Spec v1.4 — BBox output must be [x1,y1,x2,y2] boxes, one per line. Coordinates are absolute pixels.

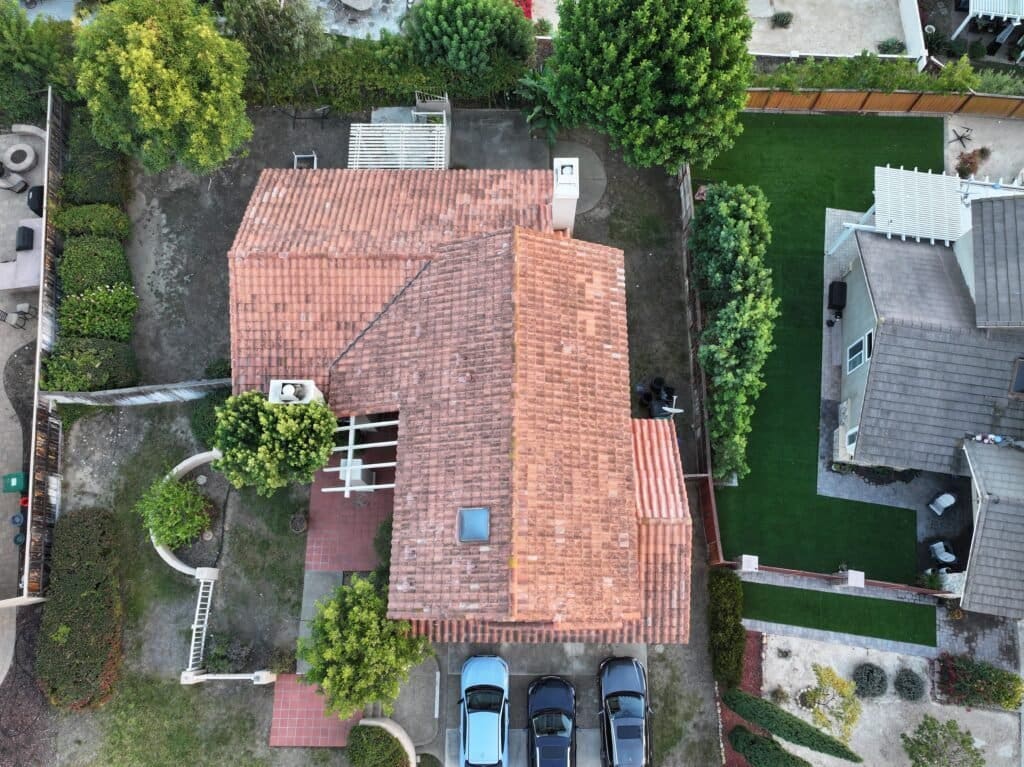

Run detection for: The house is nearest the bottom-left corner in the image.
[227,158,693,646]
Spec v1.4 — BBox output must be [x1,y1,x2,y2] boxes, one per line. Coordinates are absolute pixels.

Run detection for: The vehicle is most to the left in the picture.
[455,655,513,767]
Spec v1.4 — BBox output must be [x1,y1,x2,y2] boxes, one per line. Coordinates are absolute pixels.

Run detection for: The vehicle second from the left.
[524,676,583,767]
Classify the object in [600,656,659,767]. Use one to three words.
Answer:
car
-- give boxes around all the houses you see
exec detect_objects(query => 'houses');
[227,158,693,646]
[841,193,1024,617]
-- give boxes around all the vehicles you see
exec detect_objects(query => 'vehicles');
[455,655,513,767]
[524,676,583,767]
[600,656,659,767]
